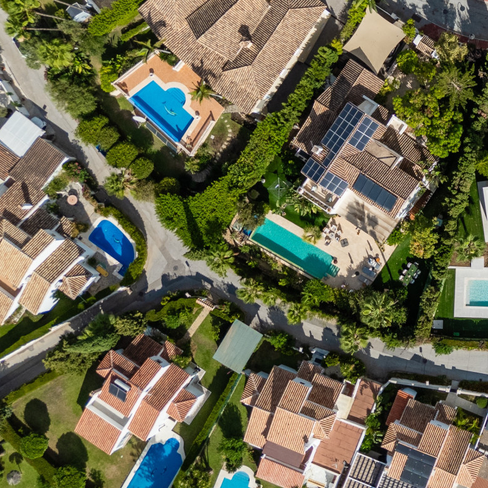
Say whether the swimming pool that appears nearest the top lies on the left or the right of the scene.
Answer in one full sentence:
The swimming pool that appears nearest the top appears in the left half of the scene.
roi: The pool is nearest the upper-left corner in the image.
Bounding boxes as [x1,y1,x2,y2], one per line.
[127,76,196,146]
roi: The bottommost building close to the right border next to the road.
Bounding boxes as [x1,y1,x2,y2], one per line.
[343,389,488,488]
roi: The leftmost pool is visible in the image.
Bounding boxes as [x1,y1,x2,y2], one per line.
[87,218,138,276]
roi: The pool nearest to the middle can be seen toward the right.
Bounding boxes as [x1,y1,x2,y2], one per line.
[250,216,342,279]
